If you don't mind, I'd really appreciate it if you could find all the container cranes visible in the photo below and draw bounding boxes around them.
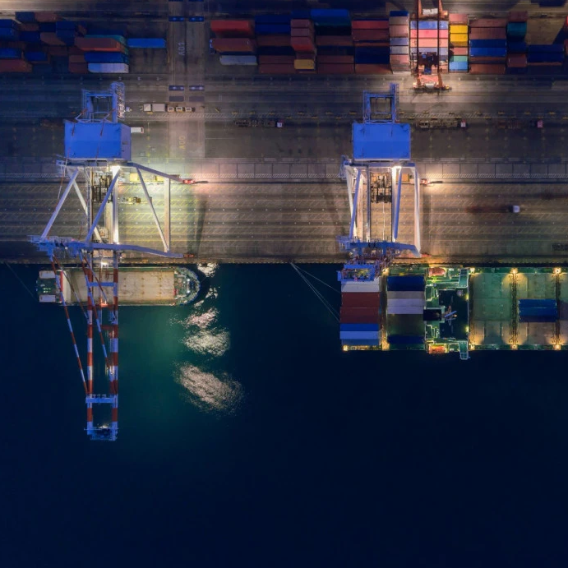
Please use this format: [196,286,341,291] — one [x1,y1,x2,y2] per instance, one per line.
[330,76,434,291]
[407,0,452,93]
[32,76,195,440]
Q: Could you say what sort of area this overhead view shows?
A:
port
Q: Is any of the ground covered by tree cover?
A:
No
